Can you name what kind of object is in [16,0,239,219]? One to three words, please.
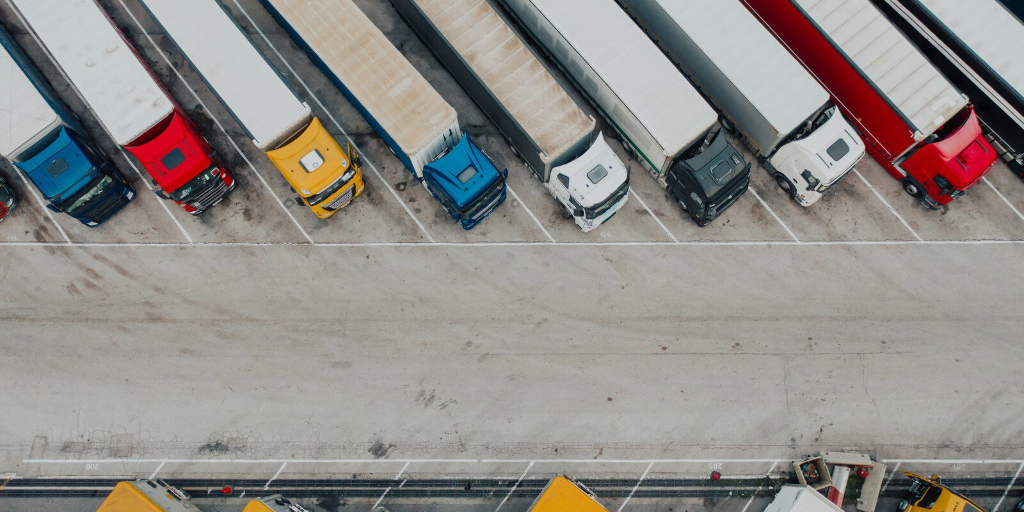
truck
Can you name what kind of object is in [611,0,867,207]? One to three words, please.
truck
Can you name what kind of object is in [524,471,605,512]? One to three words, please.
trailer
